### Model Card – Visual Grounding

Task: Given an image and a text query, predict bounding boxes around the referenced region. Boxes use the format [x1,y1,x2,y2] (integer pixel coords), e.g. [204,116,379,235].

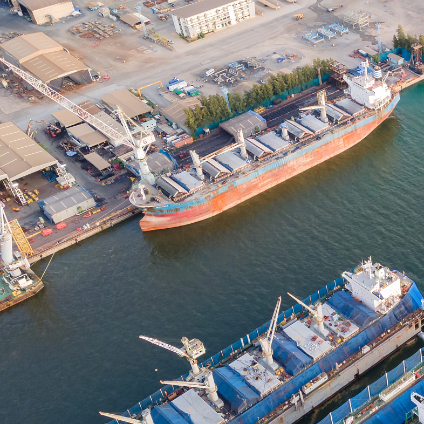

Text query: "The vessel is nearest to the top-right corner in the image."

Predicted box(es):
[136,57,405,232]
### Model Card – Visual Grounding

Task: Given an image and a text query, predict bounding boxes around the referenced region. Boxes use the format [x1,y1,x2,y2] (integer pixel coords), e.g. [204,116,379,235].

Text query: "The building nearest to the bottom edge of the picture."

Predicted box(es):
[41,183,99,221]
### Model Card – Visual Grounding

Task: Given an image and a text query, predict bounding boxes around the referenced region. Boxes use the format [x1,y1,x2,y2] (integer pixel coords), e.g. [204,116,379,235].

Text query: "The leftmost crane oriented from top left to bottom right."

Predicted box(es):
[0,59,163,191]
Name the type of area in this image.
port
